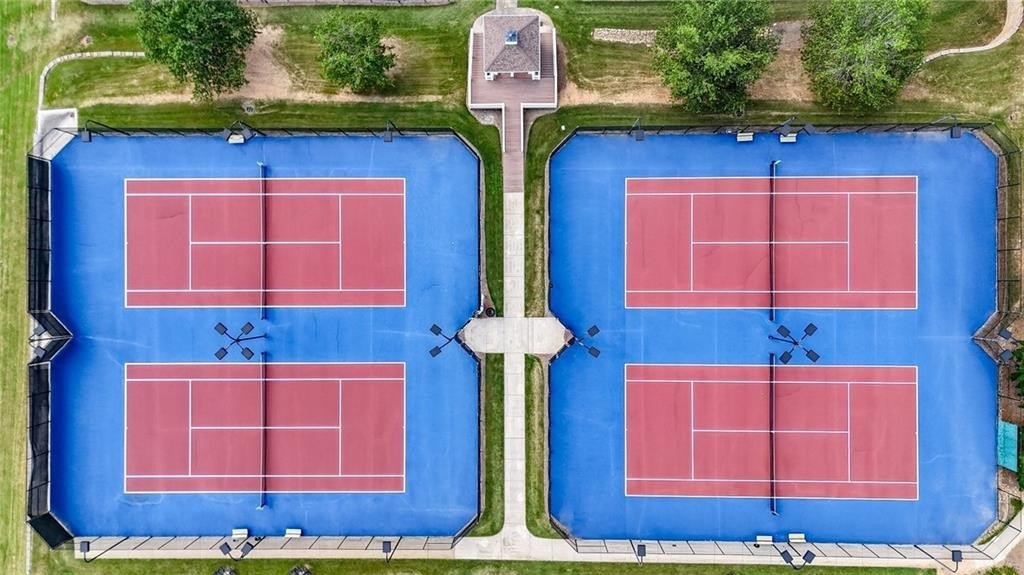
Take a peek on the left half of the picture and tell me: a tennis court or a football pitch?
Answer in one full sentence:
What appears on the left half of the picture is a tennis court.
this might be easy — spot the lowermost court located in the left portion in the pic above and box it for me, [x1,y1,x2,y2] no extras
[50,337,480,537]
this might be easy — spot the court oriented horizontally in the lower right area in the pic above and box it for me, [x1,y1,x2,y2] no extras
[550,337,999,545]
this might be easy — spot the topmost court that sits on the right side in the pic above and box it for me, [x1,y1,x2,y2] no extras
[550,131,999,337]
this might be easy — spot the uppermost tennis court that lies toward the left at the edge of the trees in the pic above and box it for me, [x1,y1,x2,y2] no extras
[51,134,479,337]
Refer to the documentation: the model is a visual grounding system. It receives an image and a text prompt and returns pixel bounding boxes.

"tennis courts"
[51,134,479,337]
[50,337,480,537]
[550,337,999,545]
[550,131,999,337]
